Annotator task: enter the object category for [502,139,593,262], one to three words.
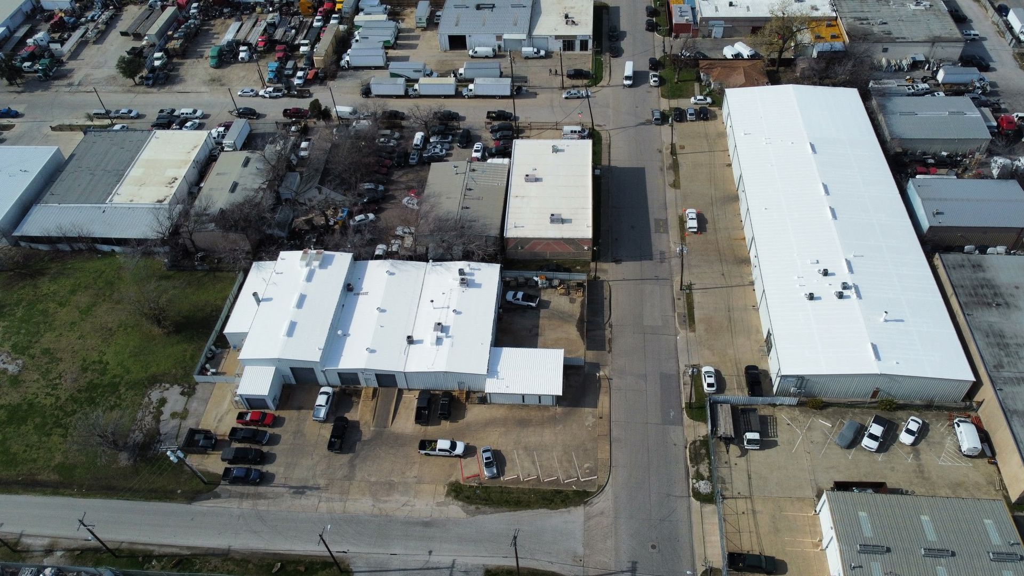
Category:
building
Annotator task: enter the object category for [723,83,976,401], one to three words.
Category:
warehouse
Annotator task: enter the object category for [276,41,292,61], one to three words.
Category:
vehicle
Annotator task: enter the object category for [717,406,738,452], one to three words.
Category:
trailer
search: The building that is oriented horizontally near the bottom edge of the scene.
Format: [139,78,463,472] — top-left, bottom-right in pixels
[819,491,1024,576]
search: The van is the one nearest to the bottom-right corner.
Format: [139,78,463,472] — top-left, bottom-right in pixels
[954,419,983,456]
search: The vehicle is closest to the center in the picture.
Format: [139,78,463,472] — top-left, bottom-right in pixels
[503,291,541,309]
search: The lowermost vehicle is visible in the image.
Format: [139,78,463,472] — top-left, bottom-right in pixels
[725,551,778,574]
